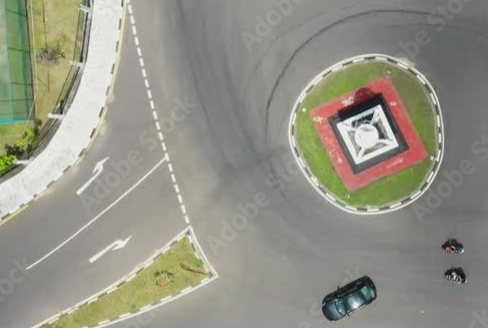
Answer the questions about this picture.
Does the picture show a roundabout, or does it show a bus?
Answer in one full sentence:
I can see a roundabout in this picture.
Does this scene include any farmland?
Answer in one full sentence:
No, there's no farmland in this view.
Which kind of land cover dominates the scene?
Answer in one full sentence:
The bulk of the photo consists of paved ground.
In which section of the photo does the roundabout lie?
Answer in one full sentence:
You can find the roundabout in the right area of the picture.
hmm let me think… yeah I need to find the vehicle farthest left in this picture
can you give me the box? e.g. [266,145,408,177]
[322,278,377,318]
